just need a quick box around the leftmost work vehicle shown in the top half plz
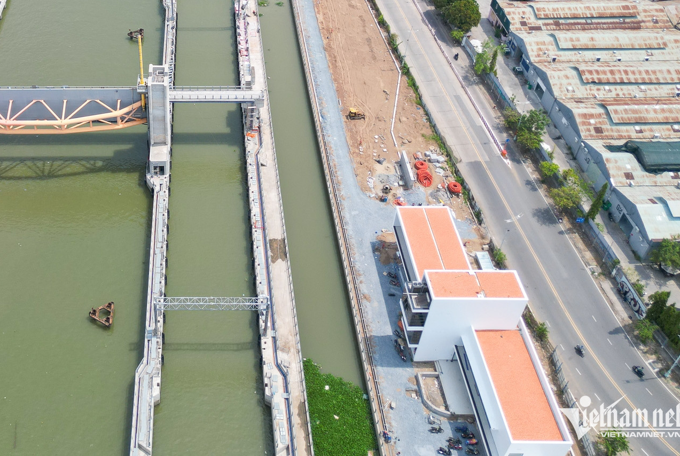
[350,109,365,122]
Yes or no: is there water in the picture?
Yes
